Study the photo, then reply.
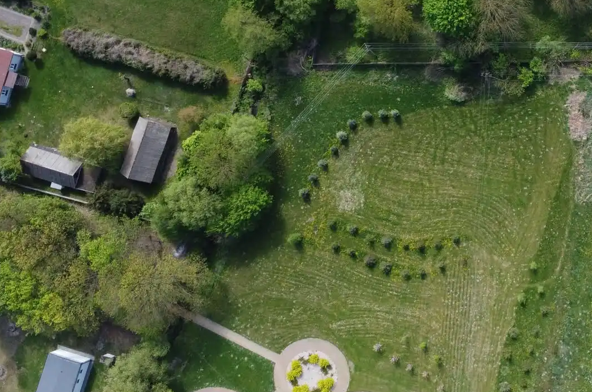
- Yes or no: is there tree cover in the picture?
Yes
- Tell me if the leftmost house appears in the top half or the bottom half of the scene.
top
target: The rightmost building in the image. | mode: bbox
[120,118,176,183]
